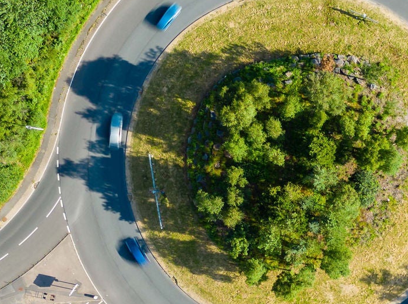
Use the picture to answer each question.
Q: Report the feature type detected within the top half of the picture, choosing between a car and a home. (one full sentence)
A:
Visible within the top half of the picture is a car.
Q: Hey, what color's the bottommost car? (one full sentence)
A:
The bottommost car looks blue in the image.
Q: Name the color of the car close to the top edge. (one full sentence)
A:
From above, the car close to the top edge appears blue.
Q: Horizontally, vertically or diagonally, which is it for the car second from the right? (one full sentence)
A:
I'd say the car second from the right is aligned diagonally in the picture.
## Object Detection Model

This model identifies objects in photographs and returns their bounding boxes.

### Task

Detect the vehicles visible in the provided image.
[157,3,181,30]
[126,238,149,264]
[108,115,122,146]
